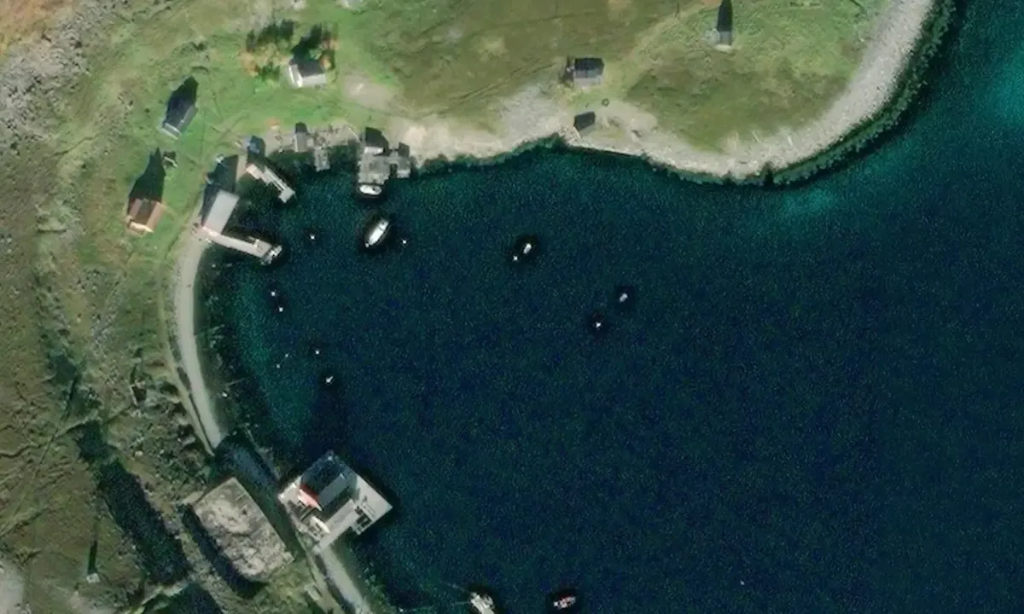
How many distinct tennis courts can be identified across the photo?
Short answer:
zero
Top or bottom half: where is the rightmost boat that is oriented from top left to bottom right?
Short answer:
bottom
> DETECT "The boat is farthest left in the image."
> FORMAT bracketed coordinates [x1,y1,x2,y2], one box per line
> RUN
[262,247,282,264]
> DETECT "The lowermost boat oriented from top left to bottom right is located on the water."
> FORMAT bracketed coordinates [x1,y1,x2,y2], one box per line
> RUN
[474,592,497,614]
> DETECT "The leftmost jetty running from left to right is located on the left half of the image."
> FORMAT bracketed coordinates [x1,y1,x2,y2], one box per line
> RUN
[197,230,272,259]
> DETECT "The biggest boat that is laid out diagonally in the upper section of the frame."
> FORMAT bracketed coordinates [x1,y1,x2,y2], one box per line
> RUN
[368,217,392,244]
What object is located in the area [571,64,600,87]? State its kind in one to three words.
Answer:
building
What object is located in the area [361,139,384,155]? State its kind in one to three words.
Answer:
shed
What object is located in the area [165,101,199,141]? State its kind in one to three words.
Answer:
house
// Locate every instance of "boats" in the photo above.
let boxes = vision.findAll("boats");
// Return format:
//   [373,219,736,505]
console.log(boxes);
[262,247,282,264]
[368,217,392,244]
[557,595,576,606]
[360,185,385,194]
[474,592,497,614]
[524,241,533,254]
